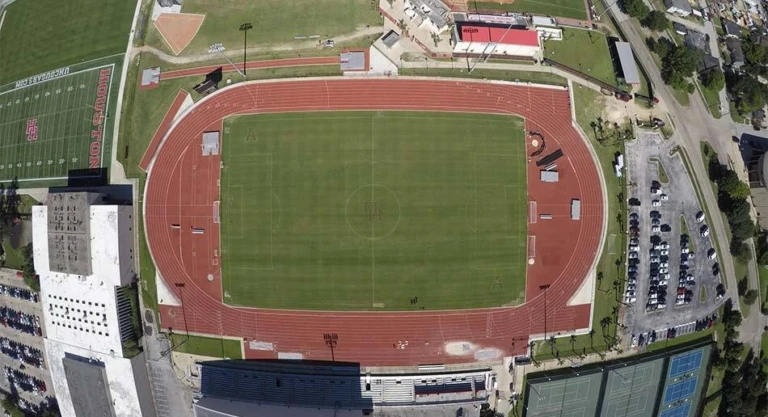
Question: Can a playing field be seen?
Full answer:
Yes, a playing field can be made out from above.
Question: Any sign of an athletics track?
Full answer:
Yes, there's an athletics track here.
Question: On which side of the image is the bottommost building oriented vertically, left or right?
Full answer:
It is on the left.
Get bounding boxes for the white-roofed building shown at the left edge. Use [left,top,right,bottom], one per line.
[32,192,157,417]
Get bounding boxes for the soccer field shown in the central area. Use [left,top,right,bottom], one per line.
[219,110,529,312]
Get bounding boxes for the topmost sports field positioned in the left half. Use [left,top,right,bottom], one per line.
[153,13,206,56]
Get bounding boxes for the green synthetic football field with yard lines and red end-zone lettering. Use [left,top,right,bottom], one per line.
[0,52,125,190]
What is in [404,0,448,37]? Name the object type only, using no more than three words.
building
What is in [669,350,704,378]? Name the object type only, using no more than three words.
tennis court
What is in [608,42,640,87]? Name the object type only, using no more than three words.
shed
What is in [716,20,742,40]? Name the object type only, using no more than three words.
house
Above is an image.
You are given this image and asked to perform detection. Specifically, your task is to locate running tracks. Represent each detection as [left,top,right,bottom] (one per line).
[142,76,607,367]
